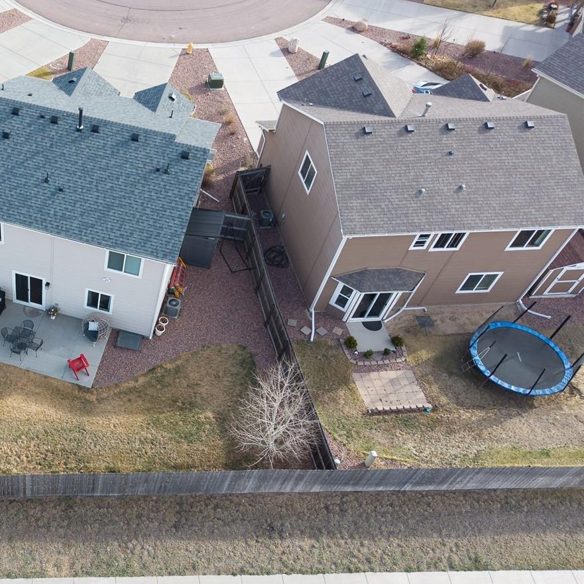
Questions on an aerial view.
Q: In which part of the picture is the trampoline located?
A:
right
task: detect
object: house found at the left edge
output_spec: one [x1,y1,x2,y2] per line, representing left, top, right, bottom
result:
[0,65,226,339]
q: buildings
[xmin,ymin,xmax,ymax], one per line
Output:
[245,53,584,333]
[0,65,226,339]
